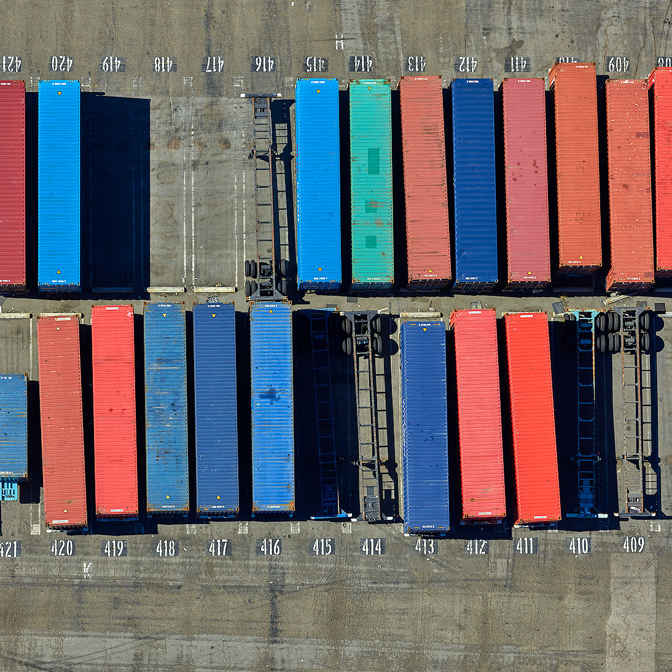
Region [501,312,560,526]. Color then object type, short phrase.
red shipping container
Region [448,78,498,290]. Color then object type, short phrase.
blue shipping container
